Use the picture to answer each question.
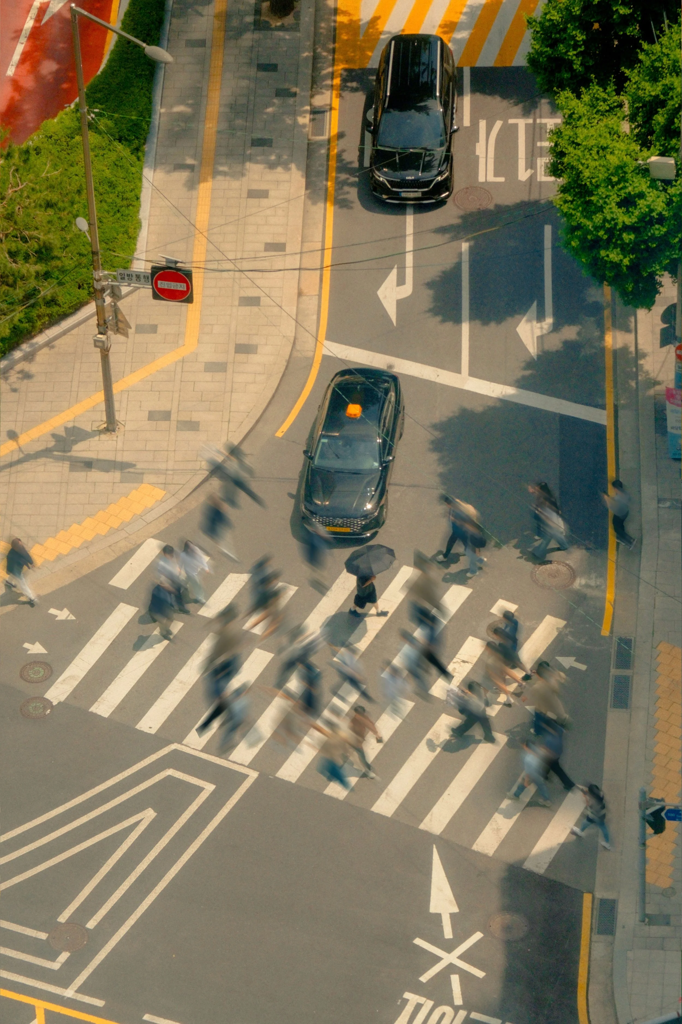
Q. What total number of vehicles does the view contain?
2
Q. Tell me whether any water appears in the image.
No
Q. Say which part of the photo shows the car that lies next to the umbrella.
center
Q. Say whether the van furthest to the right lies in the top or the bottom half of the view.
top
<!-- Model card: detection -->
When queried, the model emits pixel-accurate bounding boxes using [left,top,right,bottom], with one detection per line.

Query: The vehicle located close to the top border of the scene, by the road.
[363,37,462,201]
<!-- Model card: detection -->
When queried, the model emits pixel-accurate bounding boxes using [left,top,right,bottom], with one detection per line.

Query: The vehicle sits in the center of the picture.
[300,371,405,535]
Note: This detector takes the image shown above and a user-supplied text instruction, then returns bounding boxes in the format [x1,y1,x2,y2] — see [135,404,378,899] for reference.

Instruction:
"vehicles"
[363,37,462,201]
[300,371,405,535]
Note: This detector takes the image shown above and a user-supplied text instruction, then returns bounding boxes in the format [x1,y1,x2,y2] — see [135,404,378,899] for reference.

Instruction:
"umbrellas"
[344,542,396,578]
